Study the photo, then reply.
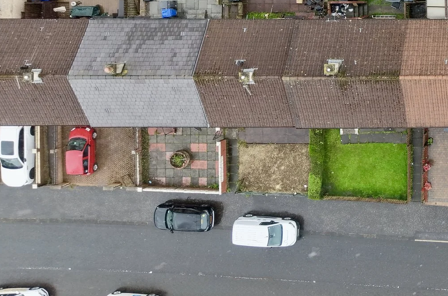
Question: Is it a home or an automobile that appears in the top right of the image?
home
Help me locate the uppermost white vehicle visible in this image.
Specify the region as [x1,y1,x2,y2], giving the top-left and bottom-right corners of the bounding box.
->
[0,127,34,187]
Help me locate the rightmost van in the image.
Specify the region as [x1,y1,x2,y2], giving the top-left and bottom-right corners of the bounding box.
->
[231,214,304,252]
